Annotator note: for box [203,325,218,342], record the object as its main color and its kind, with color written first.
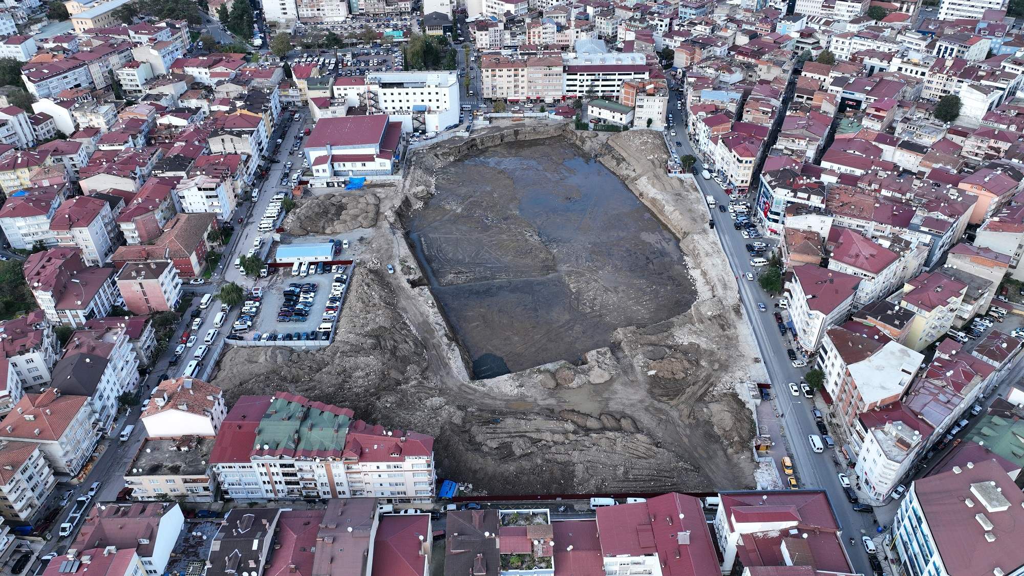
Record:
white vehicle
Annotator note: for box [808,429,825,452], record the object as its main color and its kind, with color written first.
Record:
white vehicle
